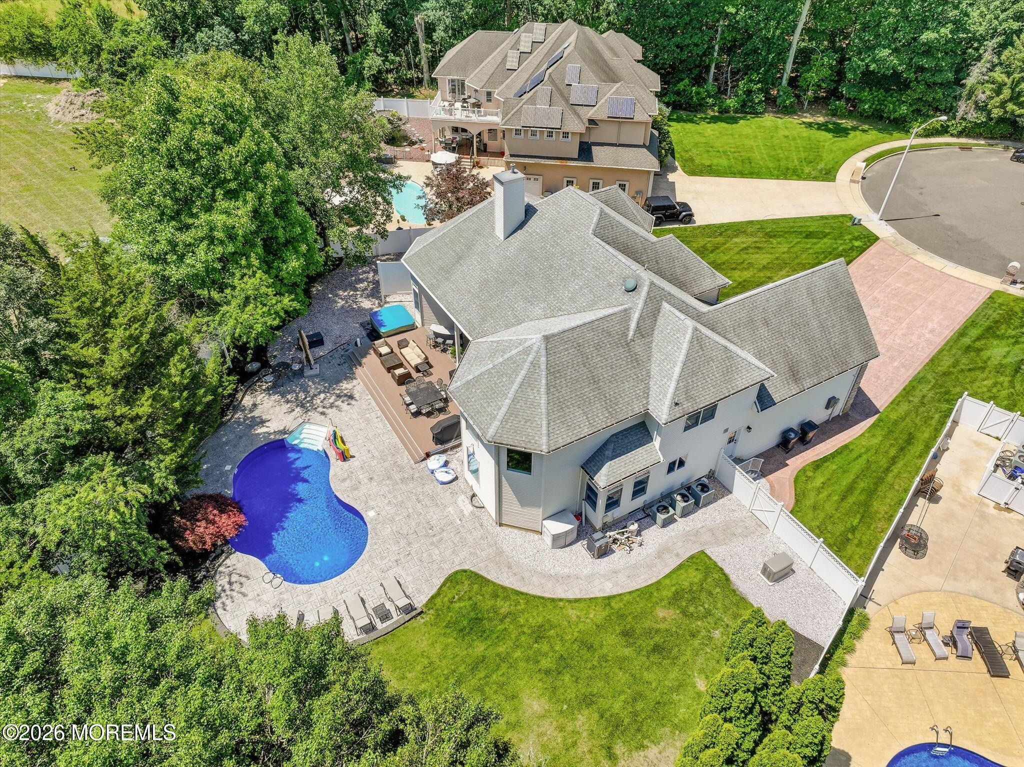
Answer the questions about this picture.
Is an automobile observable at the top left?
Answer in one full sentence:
No, the scene shows no automobile at the top left.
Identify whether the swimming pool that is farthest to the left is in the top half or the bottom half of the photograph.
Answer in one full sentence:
You can find the swimming pool that is farthest to the left in the bottom half.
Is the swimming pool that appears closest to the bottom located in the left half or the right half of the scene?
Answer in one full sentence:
It is on the right.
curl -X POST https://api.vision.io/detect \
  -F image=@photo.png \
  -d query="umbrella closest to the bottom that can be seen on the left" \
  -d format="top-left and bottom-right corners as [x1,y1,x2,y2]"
[294,332,318,374]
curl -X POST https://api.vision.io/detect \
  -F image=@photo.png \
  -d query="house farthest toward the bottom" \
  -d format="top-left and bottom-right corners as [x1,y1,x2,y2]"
[400,162,881,532]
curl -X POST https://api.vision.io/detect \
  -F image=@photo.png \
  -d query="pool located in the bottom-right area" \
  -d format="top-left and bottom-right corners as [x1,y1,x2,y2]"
[885,740,1009,767]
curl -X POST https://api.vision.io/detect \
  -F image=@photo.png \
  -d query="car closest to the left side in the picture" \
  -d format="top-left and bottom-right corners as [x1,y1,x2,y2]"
[643,191,697,222]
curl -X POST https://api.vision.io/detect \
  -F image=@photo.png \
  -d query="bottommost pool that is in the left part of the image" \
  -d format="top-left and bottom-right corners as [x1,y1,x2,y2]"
[228,421,368,585]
